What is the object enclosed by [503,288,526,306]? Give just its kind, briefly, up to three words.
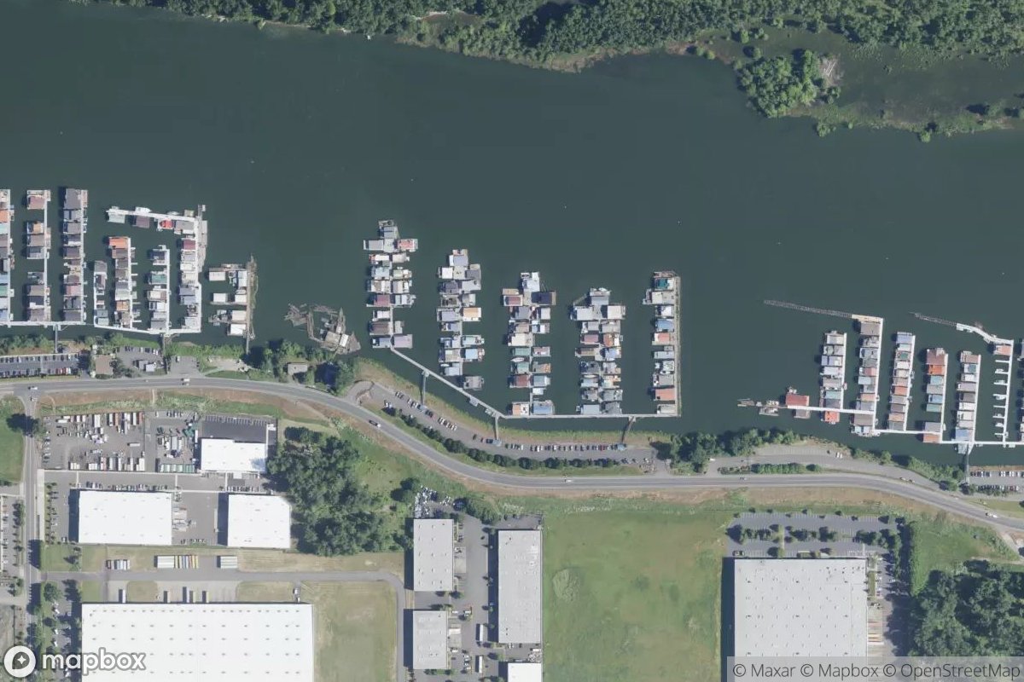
house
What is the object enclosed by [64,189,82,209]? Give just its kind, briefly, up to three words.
house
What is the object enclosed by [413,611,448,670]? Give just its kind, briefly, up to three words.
building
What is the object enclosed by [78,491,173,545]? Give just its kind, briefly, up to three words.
building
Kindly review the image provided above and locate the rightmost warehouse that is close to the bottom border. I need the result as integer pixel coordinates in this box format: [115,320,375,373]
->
[734,559,867,682]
